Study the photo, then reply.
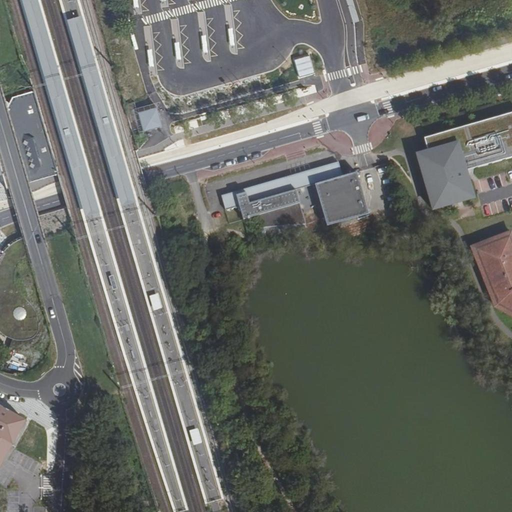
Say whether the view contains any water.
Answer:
Yes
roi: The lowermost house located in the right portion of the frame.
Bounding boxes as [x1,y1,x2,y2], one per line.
[470,229,512,316]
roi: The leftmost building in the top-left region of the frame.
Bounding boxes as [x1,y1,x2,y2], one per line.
[8,92,56,182]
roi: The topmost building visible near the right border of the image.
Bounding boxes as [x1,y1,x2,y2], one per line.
[424,112,512,170]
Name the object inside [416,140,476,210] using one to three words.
building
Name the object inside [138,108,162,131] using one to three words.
building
